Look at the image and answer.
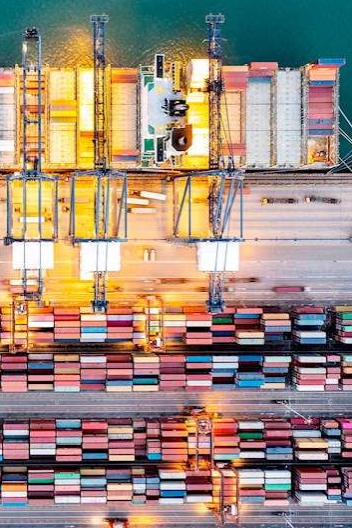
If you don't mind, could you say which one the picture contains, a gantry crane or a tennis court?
gantry crane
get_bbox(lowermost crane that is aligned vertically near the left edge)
[6,295,35,358]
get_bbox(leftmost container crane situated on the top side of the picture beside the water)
[1,27,65,310]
